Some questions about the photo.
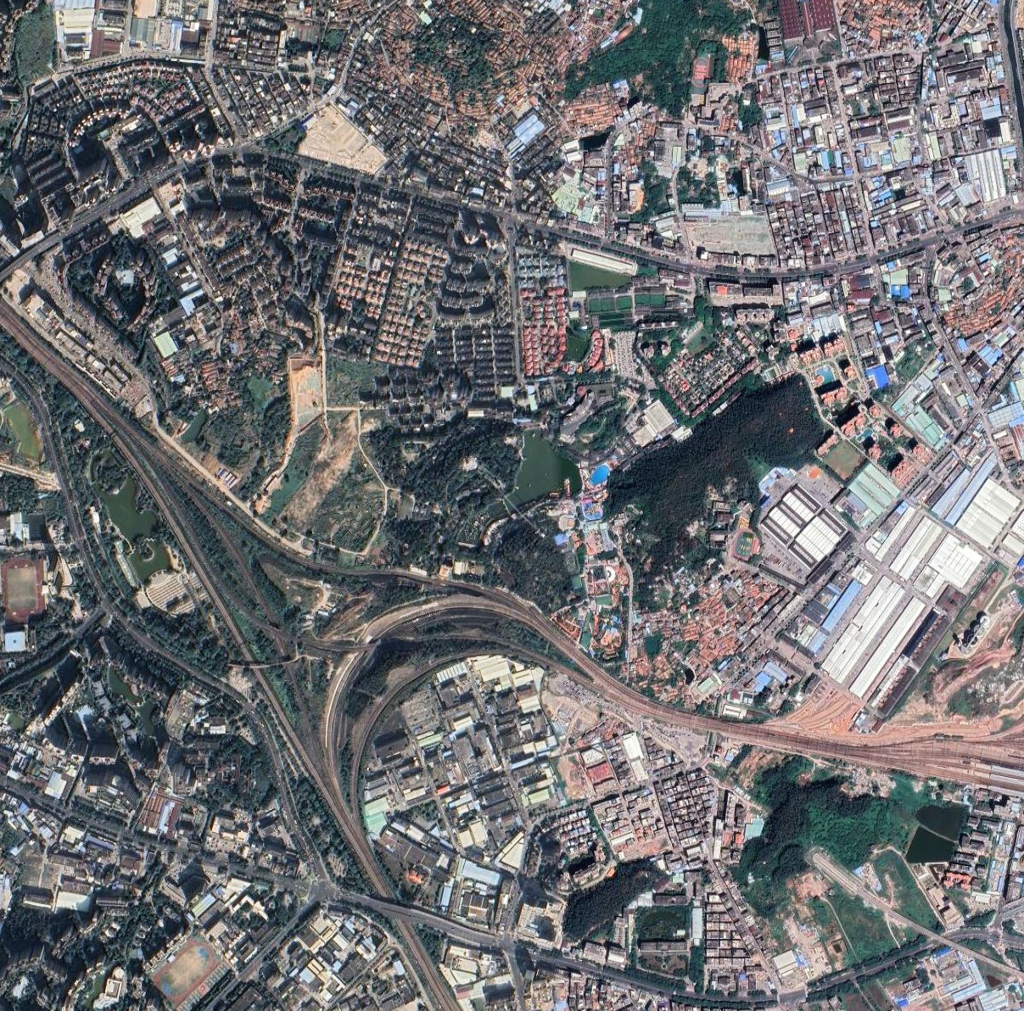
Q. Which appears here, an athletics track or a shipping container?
athletics track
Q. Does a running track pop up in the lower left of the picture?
Yes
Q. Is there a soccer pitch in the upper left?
No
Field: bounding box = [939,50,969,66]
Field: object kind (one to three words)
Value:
building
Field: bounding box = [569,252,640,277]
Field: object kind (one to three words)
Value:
shed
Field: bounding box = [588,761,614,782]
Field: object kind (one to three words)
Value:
shed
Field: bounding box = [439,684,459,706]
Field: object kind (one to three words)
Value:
building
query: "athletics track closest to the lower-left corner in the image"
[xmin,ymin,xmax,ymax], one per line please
[145,934,231,1010]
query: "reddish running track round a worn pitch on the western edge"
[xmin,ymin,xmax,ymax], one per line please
[0,561,45,620]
